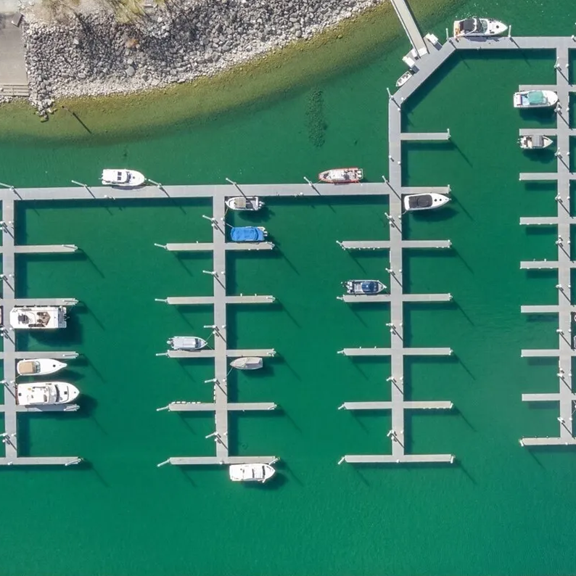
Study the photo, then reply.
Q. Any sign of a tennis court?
No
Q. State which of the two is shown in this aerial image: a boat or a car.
boat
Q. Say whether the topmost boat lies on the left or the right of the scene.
right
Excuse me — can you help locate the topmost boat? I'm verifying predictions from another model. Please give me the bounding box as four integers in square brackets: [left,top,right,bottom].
[452,18,508,39]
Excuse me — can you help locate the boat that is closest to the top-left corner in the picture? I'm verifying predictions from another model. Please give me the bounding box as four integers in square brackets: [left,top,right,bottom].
[100,170,151,187]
